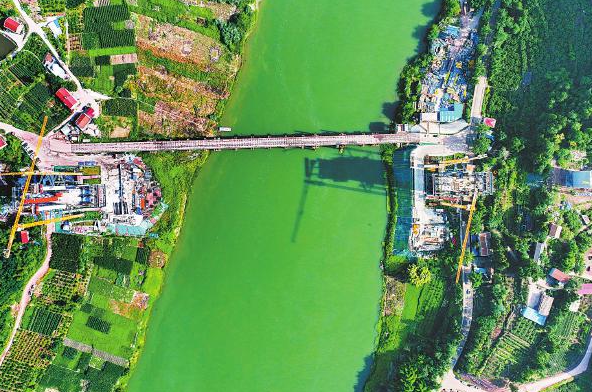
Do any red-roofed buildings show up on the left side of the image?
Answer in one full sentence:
Yes, a red-roofed building shows up on the left side of the image.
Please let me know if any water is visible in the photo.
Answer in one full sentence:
Yes, water shows up in the scene.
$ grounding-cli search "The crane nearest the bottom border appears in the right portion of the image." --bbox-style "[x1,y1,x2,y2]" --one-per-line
[428,189,480,286]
